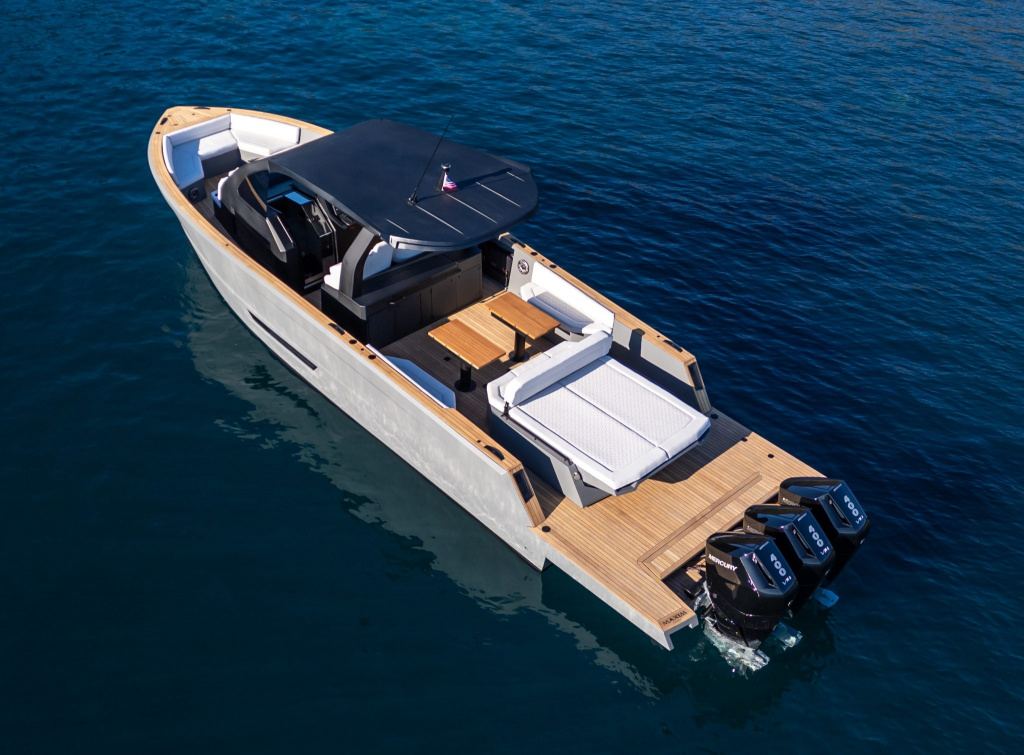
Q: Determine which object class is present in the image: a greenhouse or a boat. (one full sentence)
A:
I can see a boat in this picture.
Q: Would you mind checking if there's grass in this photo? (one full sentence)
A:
No, the picture contains no grass.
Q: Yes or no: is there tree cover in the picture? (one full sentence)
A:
No, no tree cover is visible.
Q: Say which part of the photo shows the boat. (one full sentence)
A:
The boat is in the center part of the image.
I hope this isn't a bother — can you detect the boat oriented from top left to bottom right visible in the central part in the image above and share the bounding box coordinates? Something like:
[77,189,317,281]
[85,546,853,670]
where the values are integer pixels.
[148,106,824,651]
